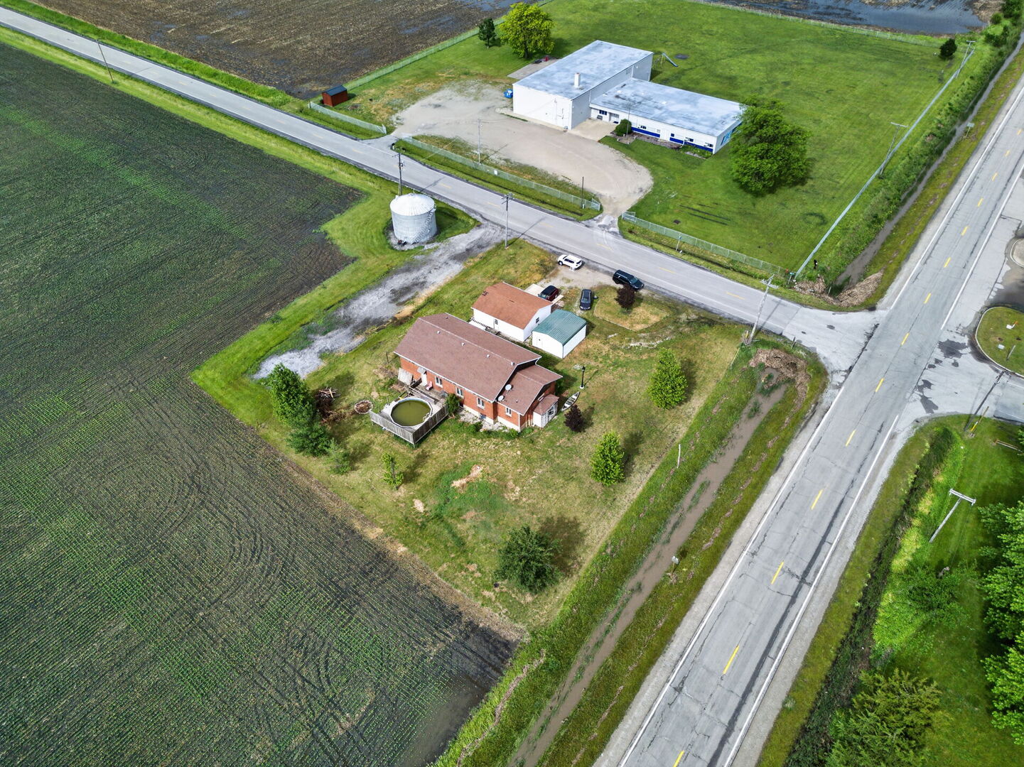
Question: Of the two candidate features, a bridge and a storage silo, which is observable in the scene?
storage silo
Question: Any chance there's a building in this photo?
Yes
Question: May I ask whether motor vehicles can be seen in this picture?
Yes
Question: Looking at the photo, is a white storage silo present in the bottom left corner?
No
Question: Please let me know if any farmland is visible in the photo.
Yes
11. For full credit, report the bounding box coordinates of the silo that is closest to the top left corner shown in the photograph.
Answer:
[388,191,439,244]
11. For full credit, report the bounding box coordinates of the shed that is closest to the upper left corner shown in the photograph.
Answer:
[321,85,348,106]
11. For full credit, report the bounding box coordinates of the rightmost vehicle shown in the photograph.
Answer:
[613,266,644,288]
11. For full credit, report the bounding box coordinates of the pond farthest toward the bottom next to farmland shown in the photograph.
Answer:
[405,632,522,767]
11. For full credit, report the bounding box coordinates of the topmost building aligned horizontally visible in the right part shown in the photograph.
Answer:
[512,39,745,152]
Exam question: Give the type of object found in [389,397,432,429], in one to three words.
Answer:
swimming pool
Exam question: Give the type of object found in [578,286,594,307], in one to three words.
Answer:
car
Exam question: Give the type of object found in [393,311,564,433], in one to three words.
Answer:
house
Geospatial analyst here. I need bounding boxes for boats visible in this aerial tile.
[562,390,580,411]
